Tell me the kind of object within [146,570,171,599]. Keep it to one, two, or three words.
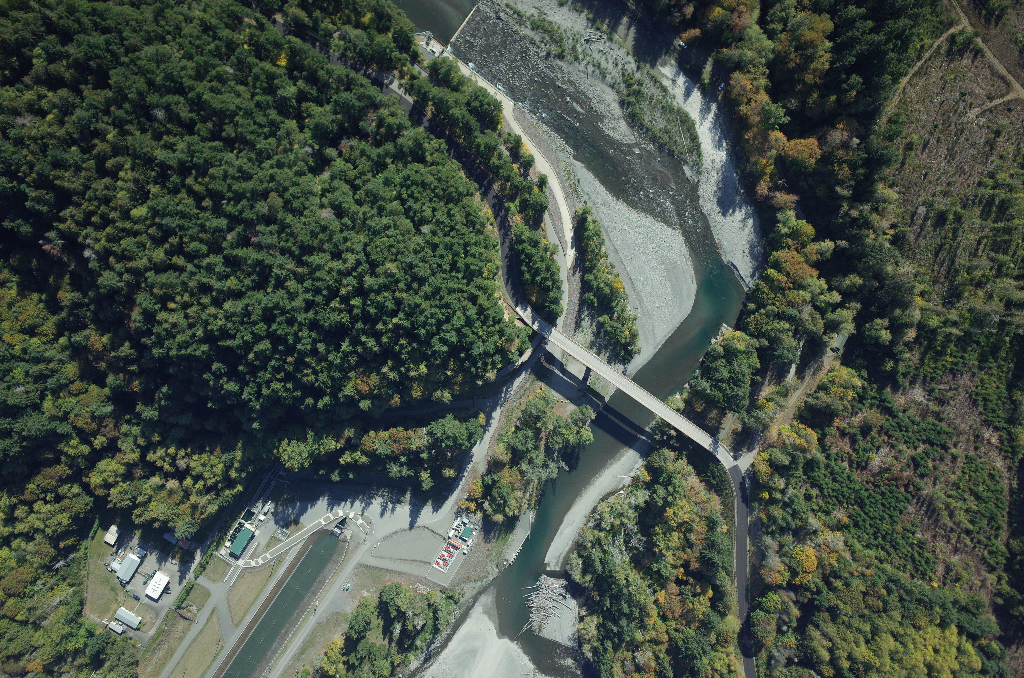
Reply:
house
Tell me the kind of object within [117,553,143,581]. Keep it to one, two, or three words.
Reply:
building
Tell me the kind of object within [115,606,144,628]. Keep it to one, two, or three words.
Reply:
house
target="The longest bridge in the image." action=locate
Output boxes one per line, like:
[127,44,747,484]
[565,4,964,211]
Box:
[516,301,738,470]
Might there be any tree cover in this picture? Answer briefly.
Yes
